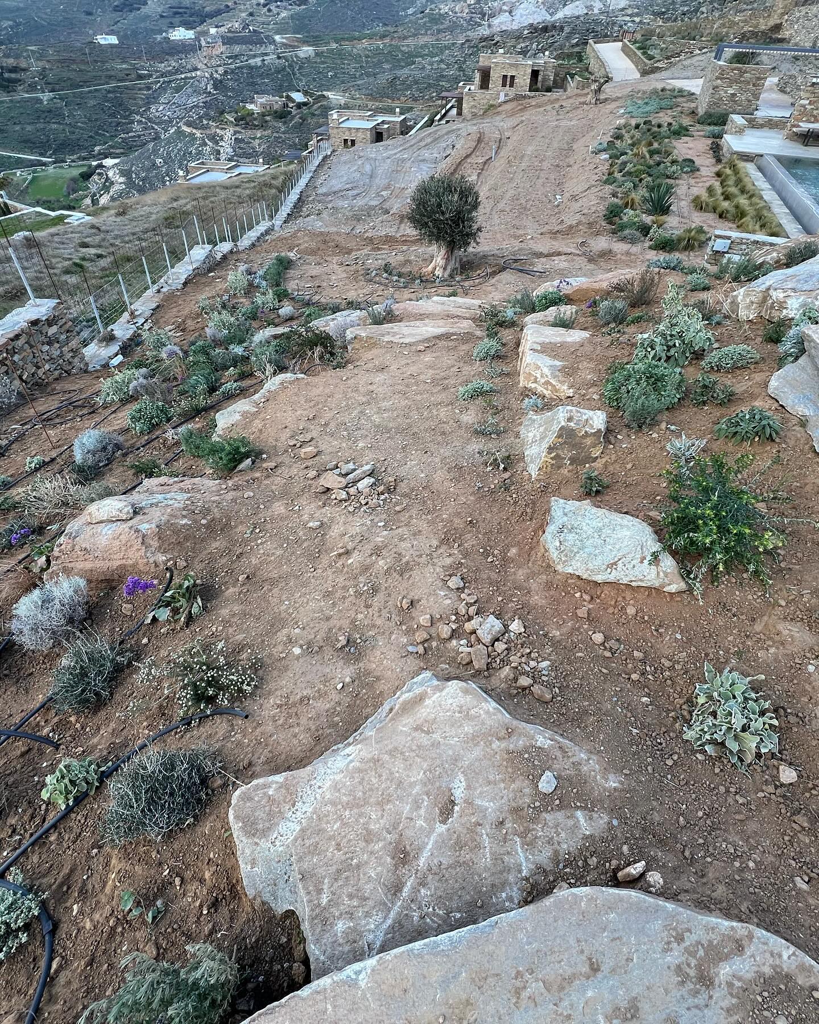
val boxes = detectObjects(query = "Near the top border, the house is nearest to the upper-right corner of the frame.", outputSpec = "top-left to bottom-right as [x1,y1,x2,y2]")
[473,47,557,94]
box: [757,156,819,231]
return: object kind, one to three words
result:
swimming pool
